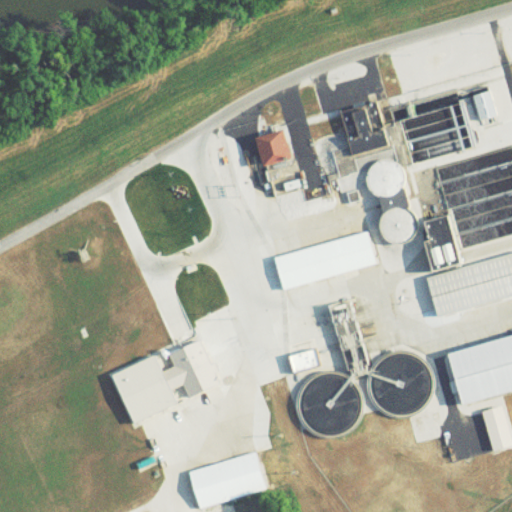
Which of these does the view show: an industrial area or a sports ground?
industrial area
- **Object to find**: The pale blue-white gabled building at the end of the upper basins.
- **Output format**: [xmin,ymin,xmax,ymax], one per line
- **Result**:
[474,91,498,120]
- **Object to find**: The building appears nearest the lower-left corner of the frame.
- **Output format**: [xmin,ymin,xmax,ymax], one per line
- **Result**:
[111,354,179,424]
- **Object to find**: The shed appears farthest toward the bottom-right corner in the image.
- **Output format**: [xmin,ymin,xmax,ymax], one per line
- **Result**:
[483,406,512,452]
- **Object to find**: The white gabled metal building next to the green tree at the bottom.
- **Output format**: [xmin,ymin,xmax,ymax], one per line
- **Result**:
[190,452,268,509]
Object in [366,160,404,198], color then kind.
white storage tank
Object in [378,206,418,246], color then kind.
white storage tank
